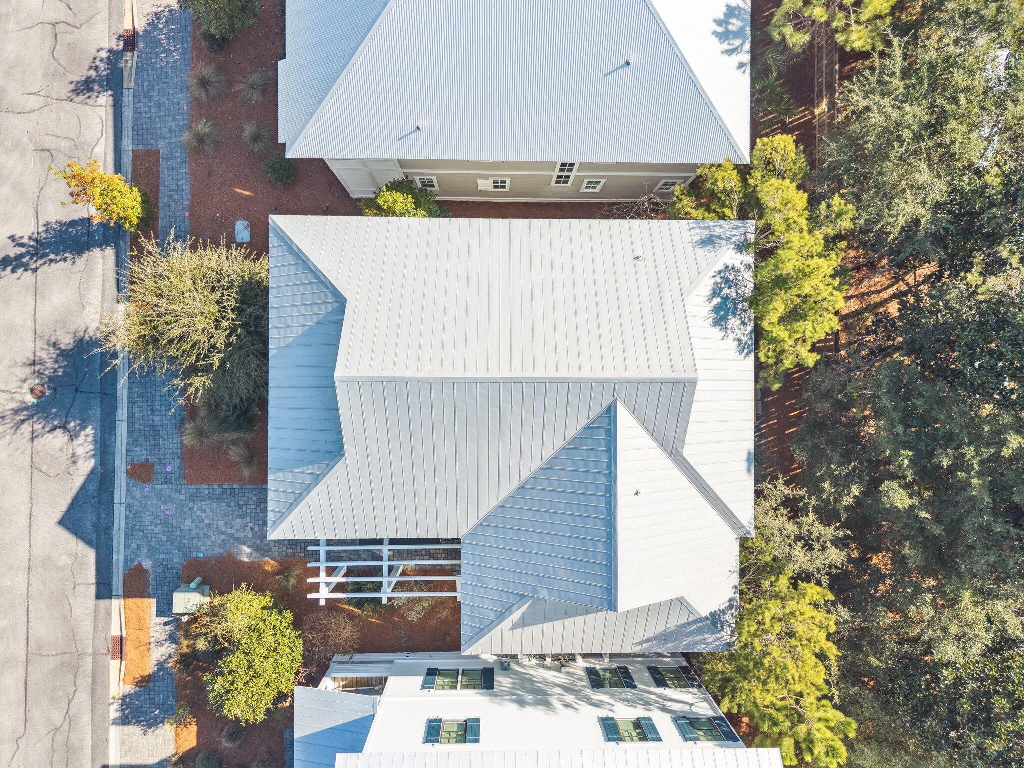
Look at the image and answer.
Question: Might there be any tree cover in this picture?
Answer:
Yes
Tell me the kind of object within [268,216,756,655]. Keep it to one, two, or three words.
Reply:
house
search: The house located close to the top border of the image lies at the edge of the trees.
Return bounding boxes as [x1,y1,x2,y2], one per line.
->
[278,0,751,203]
